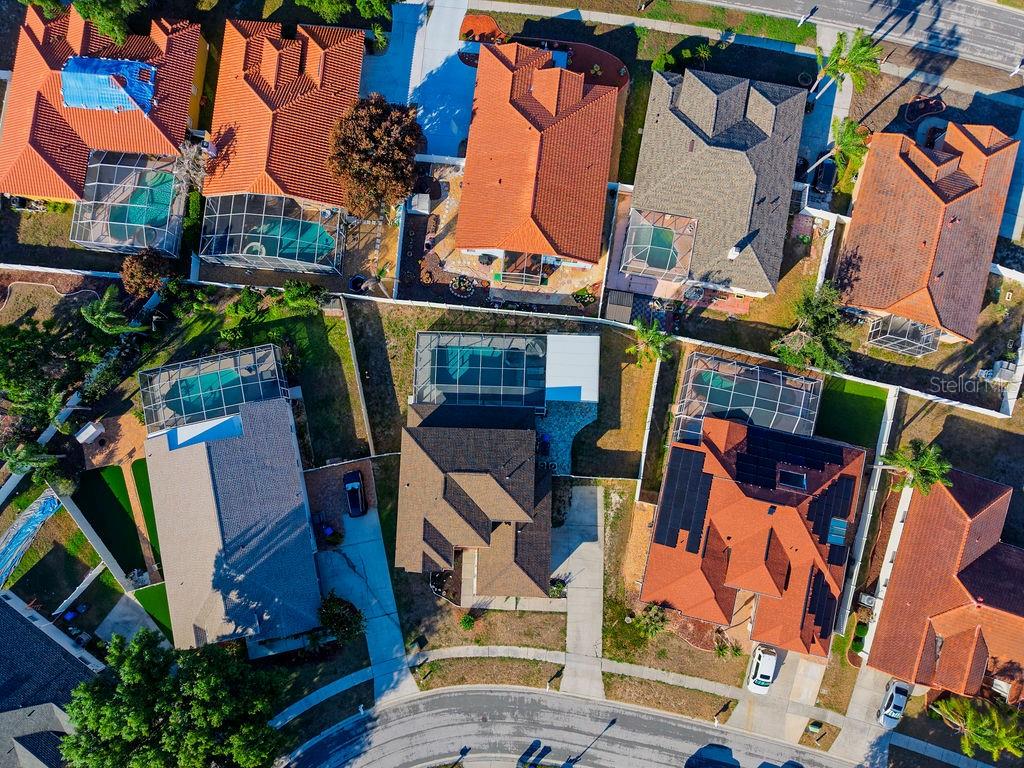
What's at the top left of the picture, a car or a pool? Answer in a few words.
pool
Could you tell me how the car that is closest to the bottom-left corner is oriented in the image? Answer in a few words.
vertically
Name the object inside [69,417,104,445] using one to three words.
shed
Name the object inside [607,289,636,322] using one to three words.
shed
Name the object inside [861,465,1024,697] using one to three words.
house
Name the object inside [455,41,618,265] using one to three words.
house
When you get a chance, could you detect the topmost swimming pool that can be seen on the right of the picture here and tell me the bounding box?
[630,225,680,269]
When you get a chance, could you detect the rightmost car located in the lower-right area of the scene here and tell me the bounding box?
[873,676,910,731]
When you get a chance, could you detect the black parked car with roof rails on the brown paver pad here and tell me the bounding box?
[339,468,367,520]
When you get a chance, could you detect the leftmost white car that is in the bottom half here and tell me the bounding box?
[745,642,779,696]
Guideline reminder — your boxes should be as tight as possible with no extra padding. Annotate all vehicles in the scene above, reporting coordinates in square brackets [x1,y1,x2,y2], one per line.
[745,642,779,696]
[873,676,910,731]
[339,468,367,520]
[813,153,835,199]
